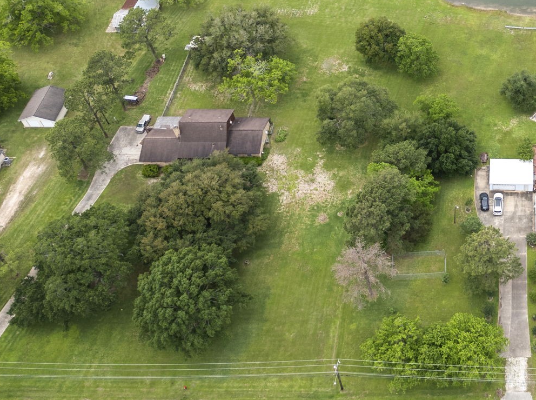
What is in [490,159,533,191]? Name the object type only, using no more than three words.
building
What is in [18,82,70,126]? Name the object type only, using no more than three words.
building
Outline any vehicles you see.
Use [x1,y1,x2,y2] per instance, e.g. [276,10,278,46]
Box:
[493,194,504,214]
[131,110,153,135]
[479,192,490,211]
